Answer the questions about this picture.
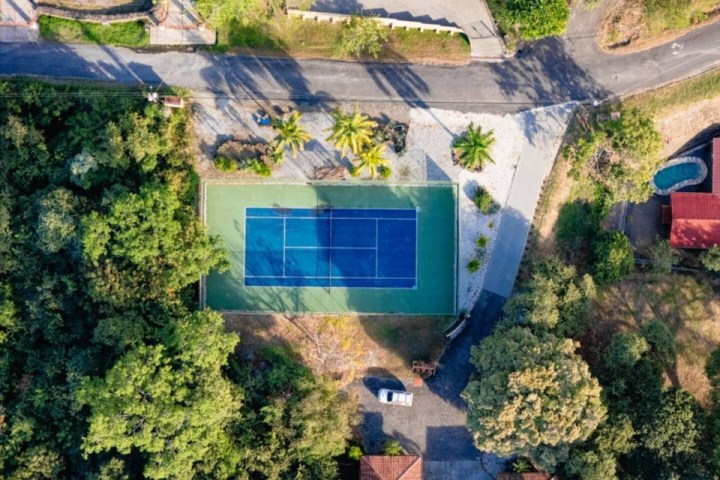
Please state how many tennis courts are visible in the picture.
1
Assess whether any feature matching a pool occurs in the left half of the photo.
No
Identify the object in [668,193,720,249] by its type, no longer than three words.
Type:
house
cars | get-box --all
[379,390,413,408]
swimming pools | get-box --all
[652,156,708,195]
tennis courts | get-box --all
[198,178,458,316]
